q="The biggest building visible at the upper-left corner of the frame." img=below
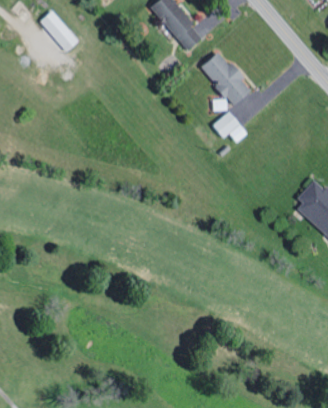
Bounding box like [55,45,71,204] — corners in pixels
[38,10,78,51]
